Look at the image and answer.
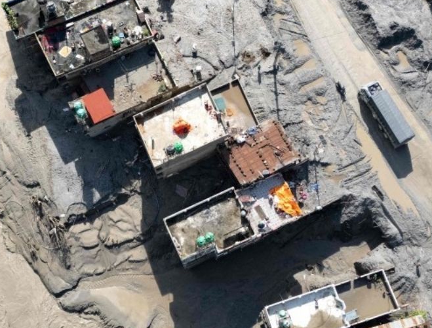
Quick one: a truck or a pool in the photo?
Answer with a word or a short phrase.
truck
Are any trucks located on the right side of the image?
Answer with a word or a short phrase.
Yes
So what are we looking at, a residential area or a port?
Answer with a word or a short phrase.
residential area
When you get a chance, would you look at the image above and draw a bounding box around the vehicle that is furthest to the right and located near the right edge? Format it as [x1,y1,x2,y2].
[356,80,417,152]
